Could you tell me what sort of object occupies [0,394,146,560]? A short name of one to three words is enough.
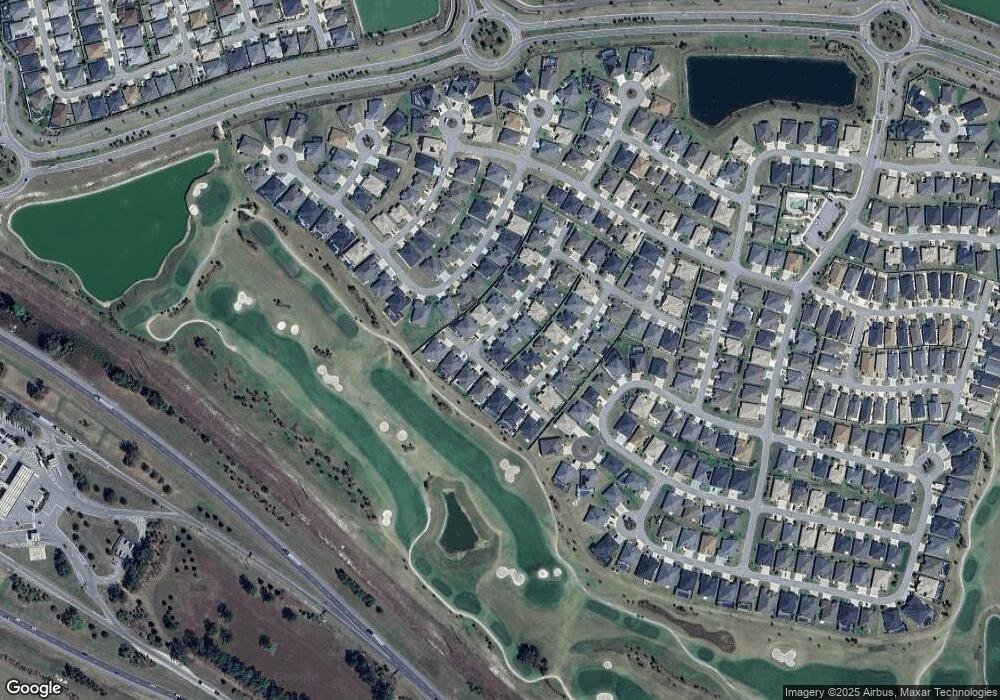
service area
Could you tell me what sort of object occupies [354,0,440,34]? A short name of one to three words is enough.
pond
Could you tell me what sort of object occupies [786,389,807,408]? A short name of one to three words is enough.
house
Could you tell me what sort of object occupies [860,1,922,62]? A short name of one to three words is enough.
roundabout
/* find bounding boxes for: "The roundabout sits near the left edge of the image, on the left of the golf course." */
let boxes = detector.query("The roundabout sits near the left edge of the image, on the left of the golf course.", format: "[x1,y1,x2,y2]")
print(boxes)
[0,135,31,199]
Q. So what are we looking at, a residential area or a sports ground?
residential area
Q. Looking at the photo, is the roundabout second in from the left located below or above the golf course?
above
